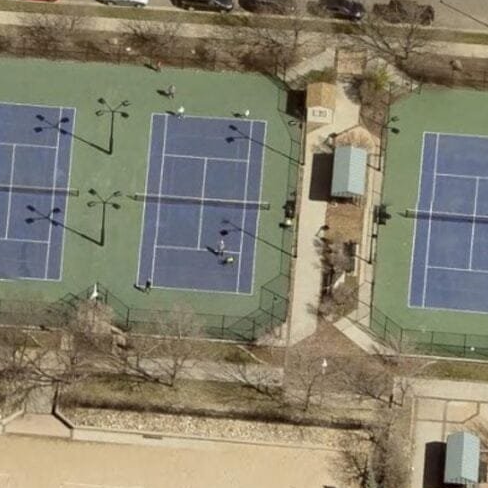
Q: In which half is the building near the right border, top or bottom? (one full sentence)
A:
You can find the building near the right border in the bottom half.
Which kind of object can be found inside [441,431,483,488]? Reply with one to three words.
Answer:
building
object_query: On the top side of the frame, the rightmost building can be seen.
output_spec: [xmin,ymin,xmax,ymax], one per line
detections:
[327,144,369,212]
